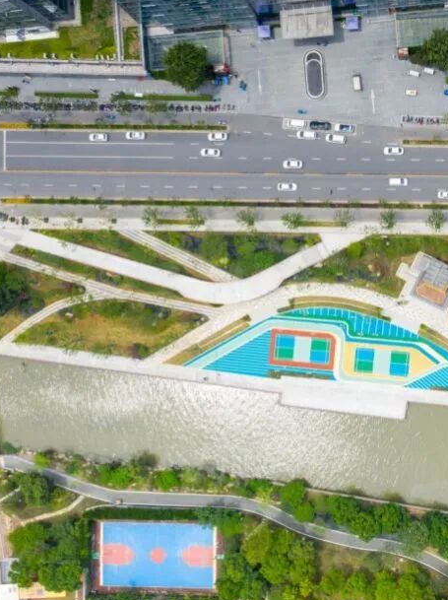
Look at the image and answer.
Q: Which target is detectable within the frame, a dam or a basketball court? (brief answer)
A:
basketball court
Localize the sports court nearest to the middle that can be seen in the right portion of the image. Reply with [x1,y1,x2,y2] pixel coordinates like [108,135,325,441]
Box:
[268,329,336,370]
